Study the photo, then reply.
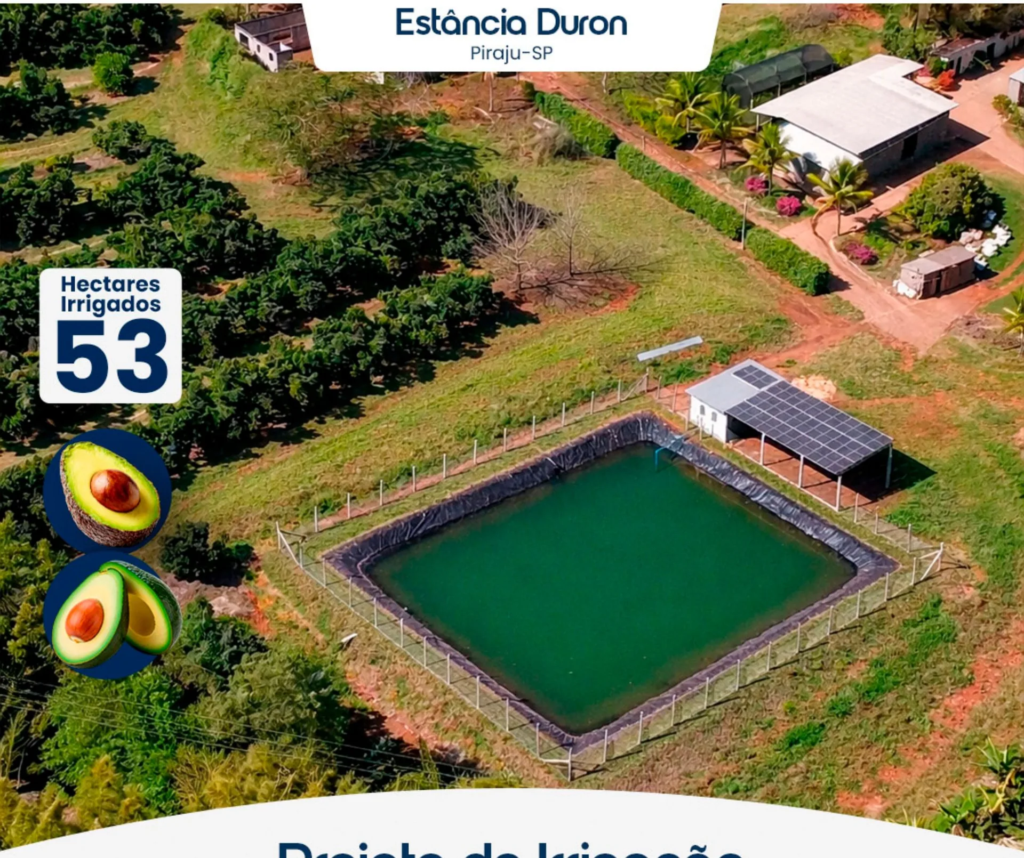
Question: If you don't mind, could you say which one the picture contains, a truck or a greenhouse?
greenhouse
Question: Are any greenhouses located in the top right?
Yes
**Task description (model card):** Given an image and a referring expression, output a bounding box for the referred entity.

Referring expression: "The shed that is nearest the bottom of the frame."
[685,355,900,511]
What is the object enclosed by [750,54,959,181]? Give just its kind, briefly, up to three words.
house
